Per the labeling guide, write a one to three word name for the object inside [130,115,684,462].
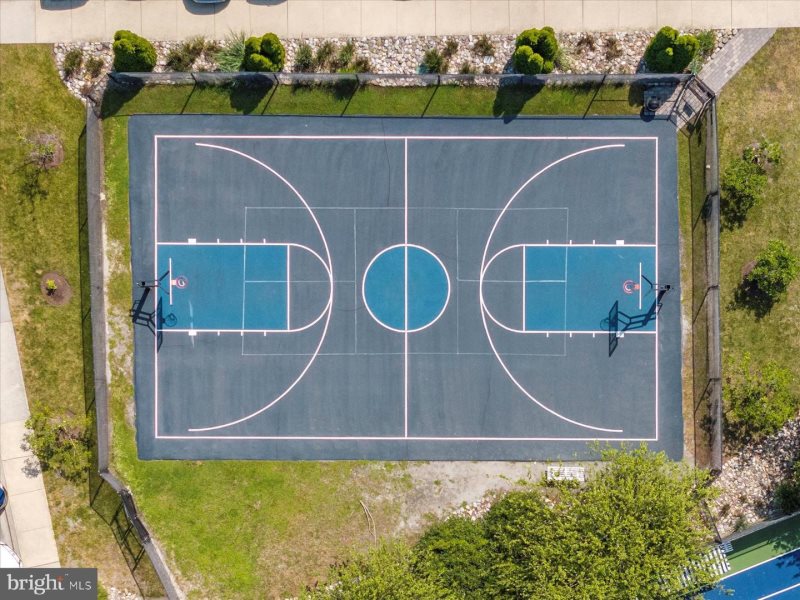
basketball court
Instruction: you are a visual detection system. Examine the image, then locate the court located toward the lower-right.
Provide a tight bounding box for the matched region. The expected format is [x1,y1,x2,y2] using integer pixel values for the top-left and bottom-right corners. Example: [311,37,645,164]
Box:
[654,517,800,600]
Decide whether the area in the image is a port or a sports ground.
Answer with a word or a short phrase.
sports ground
